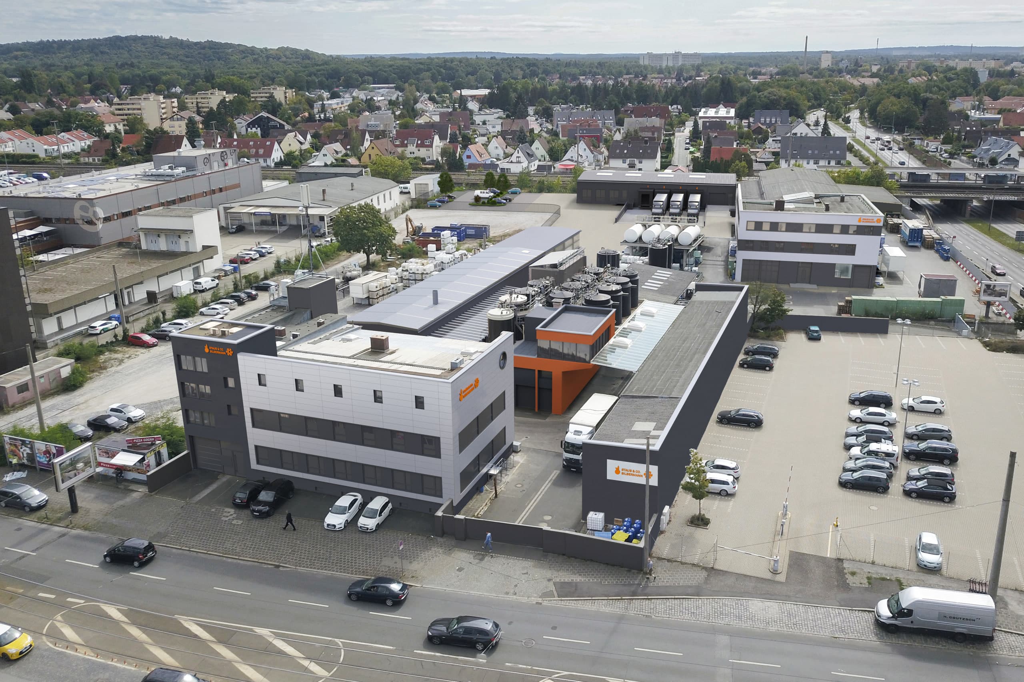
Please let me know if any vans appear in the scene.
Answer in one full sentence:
Yes, there is a van in the image.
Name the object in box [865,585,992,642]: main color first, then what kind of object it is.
gray van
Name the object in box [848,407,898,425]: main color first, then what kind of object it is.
white car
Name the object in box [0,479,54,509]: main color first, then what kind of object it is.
gray car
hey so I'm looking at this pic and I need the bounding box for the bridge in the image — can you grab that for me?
[896,178,1024,218]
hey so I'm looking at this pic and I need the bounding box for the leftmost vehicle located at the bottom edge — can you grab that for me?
[0,627,31,661]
